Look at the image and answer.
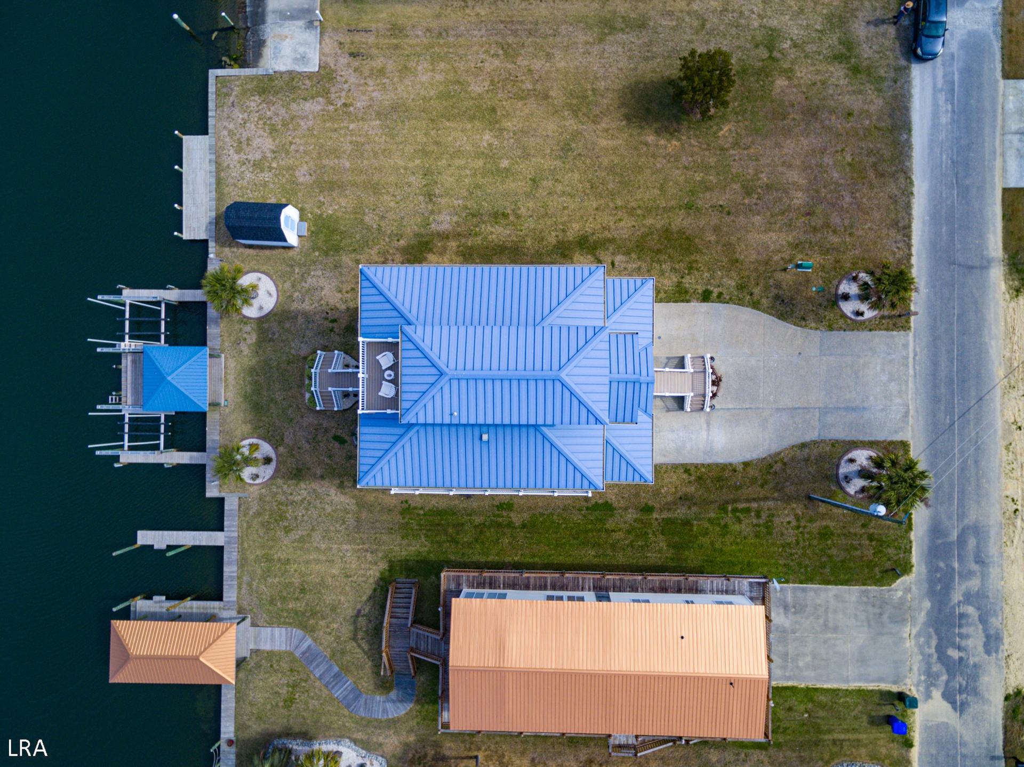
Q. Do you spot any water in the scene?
Yes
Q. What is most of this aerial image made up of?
grass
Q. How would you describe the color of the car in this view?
blue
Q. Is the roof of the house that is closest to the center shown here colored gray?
No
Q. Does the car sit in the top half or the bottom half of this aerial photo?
top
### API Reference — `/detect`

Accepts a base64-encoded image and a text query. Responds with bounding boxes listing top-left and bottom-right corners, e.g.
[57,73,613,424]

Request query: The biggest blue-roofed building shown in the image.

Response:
[358,264,657,497]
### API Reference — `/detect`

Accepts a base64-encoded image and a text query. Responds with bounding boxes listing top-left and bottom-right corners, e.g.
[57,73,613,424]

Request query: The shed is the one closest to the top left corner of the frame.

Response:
[226,204,299,251]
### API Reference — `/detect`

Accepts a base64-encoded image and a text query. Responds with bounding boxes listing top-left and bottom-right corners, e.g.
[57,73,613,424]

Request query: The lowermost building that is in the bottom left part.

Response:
[108,614,249,685]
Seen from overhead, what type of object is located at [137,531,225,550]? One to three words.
pier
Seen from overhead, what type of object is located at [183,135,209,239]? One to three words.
pier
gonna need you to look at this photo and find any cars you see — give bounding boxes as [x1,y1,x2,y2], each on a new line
[904,0,954,61]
